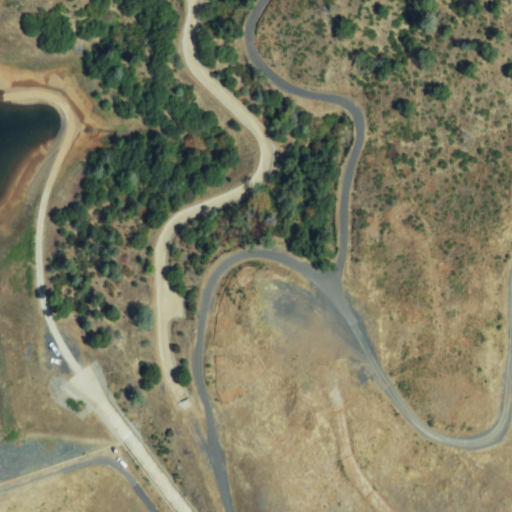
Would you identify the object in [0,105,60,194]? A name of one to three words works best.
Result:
pond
